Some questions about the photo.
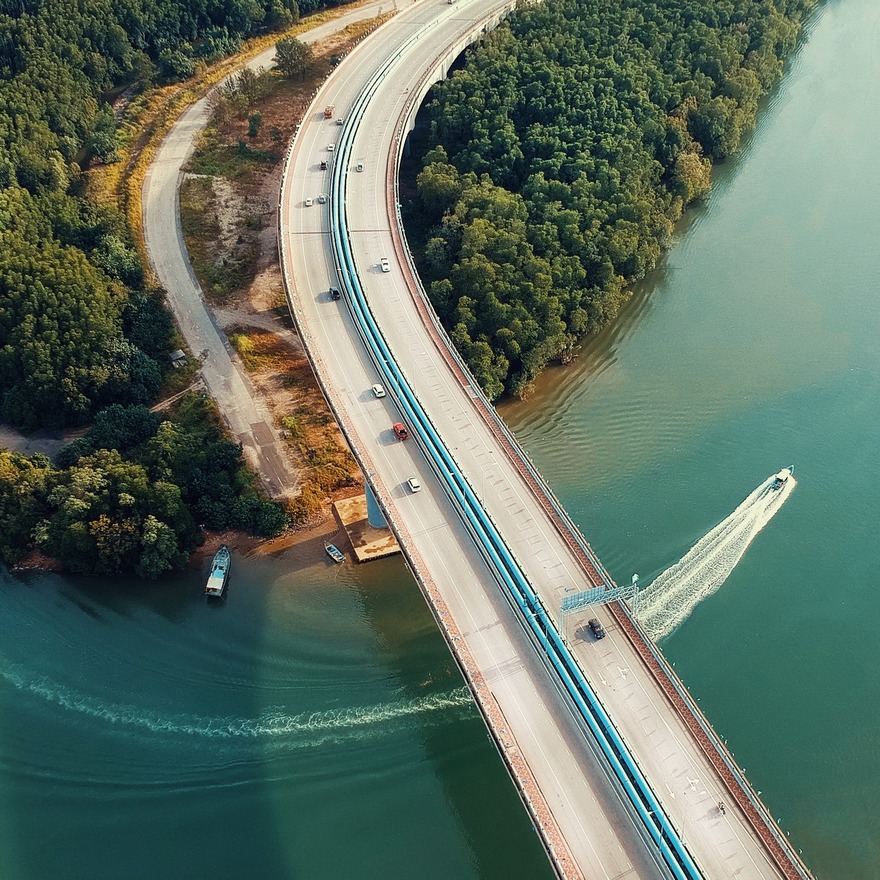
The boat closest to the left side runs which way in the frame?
vertically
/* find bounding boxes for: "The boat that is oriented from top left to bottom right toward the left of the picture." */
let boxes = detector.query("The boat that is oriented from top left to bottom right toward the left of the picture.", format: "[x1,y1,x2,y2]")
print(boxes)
[321,541,367,572]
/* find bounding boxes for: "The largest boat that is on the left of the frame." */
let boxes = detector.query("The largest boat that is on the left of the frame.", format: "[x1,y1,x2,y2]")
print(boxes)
[208,547,229,605]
